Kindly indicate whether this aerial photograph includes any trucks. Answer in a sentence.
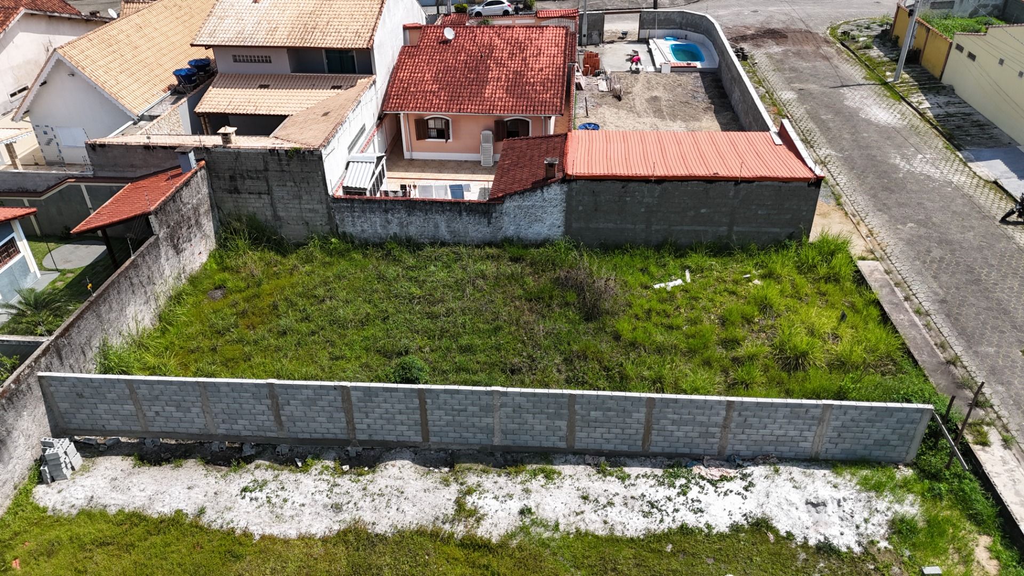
No, there isn't any truck down there.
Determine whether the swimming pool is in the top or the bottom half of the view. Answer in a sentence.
The top half of the photo is where the swimming pool is.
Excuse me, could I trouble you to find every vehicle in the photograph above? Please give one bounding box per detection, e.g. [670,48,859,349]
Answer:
[998,191,1024,222]
[469,0,512,13]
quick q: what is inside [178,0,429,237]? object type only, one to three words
house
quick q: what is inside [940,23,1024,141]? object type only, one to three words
building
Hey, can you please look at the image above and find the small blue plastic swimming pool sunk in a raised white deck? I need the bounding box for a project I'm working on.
[646,31,724,78]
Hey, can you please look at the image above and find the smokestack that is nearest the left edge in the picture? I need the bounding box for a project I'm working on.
[166,143,195,171]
